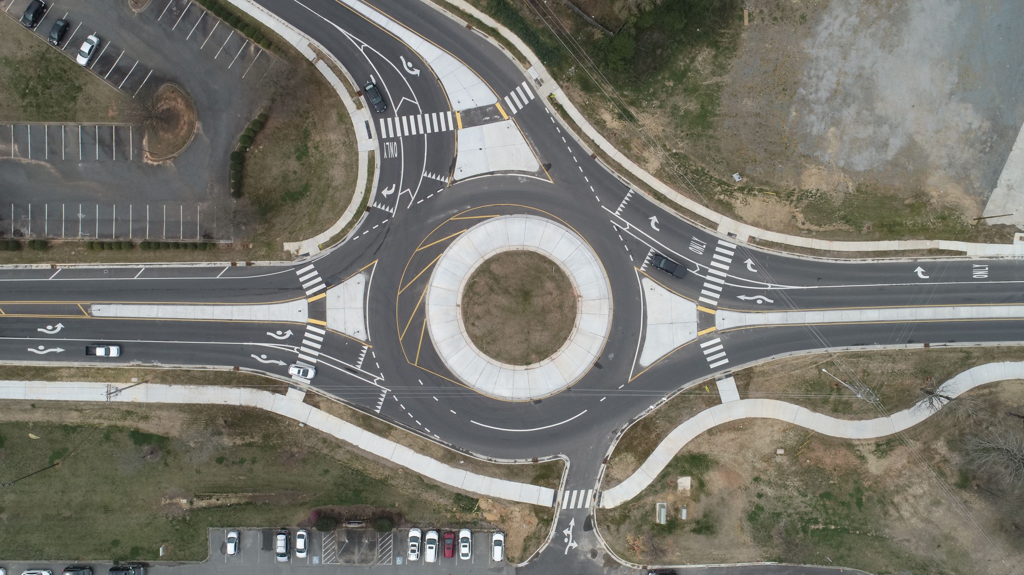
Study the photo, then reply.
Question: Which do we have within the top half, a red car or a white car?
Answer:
white car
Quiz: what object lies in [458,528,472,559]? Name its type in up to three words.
car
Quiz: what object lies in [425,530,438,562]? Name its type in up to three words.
vehicle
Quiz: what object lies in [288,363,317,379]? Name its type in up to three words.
car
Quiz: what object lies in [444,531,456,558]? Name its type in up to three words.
vehicle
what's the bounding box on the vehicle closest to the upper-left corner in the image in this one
[21,0,46,28]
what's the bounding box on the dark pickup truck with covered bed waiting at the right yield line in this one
[651,255,687,279]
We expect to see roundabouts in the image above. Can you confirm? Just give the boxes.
[401,190,637,426]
